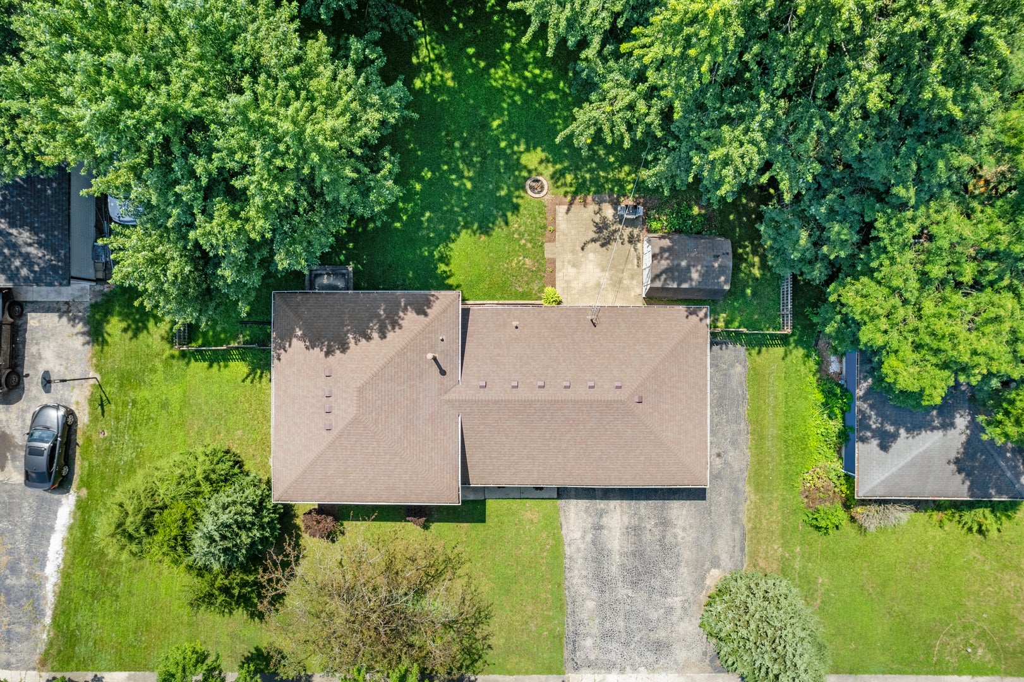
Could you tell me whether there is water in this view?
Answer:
No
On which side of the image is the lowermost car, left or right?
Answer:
left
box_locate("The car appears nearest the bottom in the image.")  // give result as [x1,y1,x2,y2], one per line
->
[22,401,74,491]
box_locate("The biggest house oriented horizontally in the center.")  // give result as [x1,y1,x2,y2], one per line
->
[272,291,710,505]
